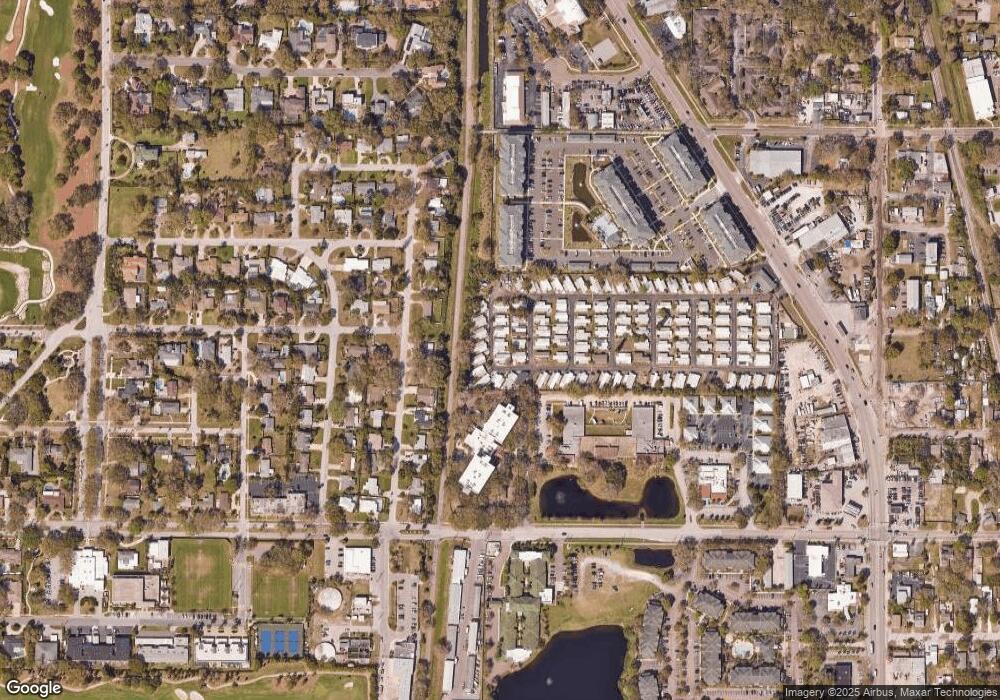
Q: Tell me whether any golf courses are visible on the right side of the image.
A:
No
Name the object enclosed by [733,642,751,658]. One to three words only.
swimming pool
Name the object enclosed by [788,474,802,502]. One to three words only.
building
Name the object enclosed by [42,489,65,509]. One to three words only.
house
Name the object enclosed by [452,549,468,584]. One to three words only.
shed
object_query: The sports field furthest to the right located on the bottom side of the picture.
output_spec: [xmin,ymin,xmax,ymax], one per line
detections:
[254,566,309,617]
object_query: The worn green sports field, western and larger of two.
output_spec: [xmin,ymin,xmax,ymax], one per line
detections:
[174,540,231,611]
